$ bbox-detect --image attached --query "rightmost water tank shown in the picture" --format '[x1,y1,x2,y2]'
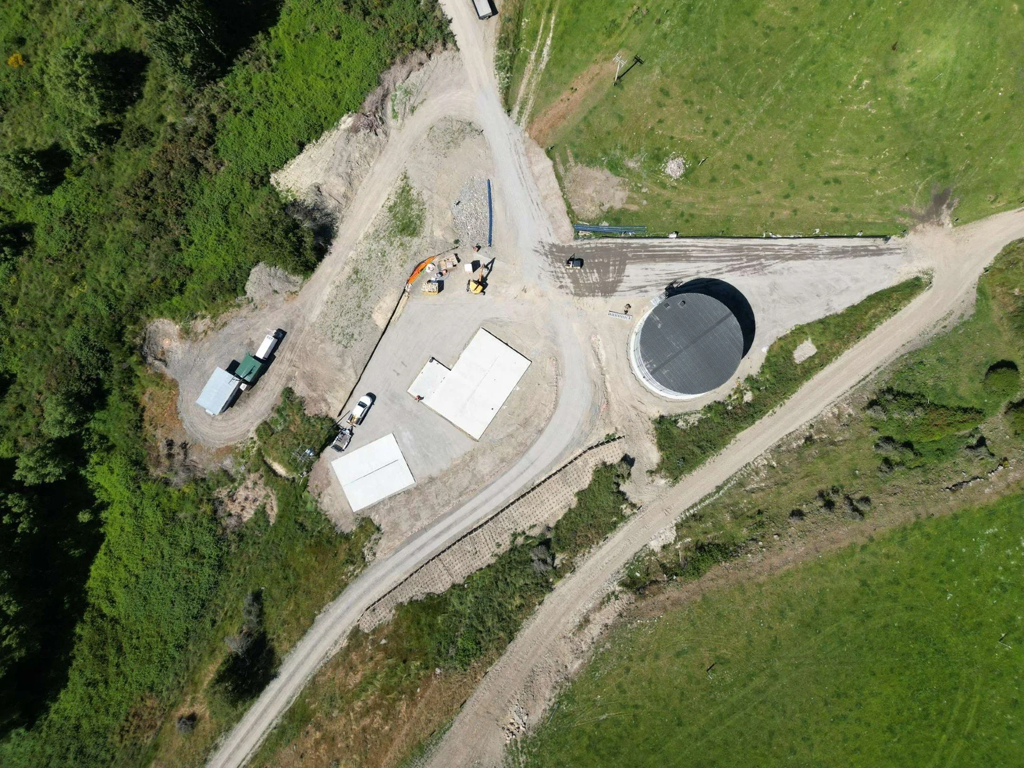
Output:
[630,285,744,397]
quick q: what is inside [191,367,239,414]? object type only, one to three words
building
